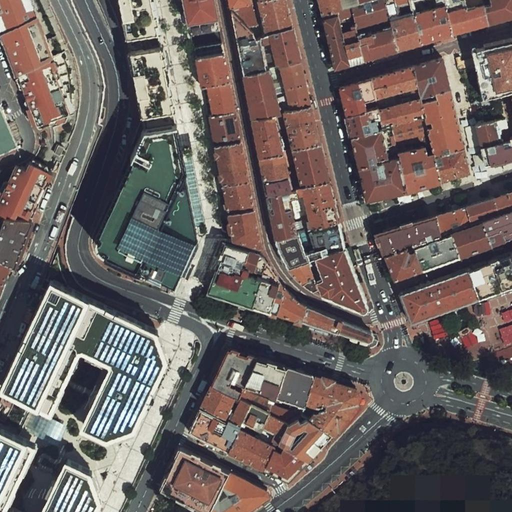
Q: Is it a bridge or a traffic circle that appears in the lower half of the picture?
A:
traffic circle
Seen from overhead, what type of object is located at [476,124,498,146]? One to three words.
house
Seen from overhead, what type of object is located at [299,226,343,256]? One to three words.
building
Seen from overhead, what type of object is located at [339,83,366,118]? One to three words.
building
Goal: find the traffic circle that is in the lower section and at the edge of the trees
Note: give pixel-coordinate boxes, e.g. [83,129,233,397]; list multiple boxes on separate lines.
[366,345,440,419]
